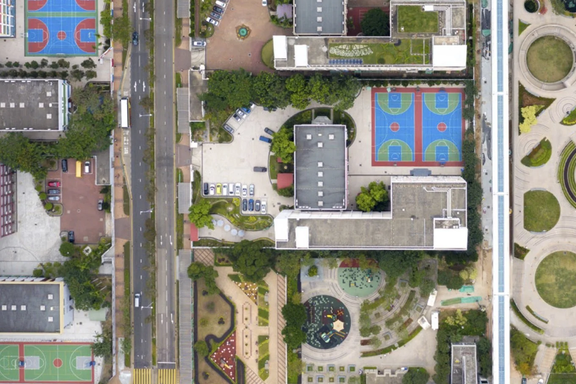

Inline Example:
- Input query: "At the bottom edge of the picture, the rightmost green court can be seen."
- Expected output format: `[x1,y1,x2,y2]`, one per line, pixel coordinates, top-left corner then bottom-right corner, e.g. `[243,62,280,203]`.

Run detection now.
[24,345,92,381]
